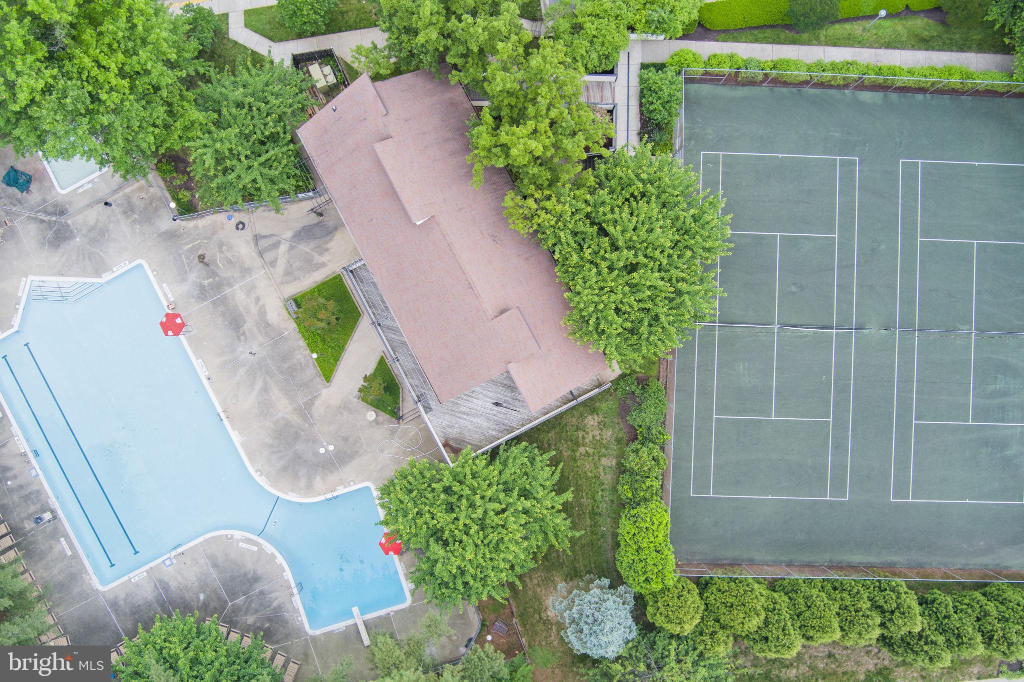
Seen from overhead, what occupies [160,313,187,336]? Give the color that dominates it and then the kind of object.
red umbrella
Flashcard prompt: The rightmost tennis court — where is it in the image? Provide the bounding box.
[870,91,1024,572]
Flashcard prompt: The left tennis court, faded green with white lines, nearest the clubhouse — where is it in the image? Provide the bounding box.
[672,82,881,568]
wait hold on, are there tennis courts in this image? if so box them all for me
[672,82,881,568]
[870,91,1024,572]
